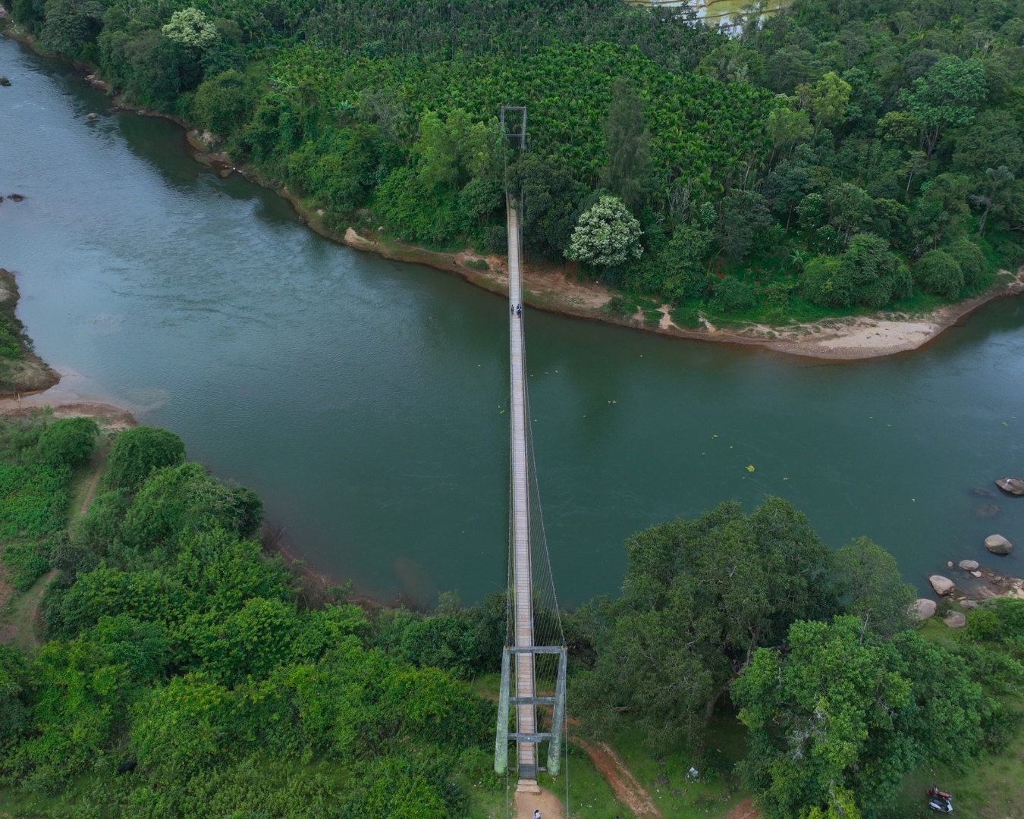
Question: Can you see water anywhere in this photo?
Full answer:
Yes, there's water in this view.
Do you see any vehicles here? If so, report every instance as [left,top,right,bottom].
[930,800,957,814]
[928,784,958,802]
